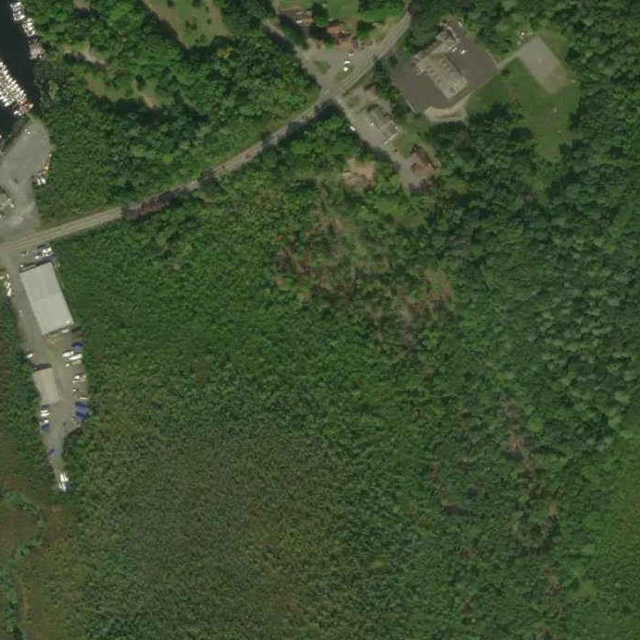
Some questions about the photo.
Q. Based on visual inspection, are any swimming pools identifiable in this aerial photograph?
No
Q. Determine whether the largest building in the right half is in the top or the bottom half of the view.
top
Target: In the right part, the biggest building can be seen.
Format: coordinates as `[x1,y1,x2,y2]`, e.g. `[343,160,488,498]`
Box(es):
[414,25,466,99]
